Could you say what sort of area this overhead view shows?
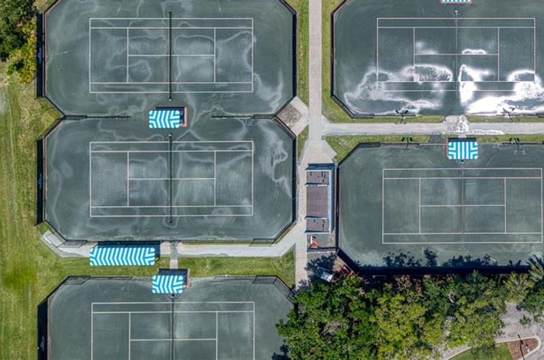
sports ground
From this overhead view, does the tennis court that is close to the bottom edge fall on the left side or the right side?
left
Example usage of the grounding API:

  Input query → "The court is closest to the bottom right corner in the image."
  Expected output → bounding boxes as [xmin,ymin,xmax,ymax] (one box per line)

[338,143,544,271]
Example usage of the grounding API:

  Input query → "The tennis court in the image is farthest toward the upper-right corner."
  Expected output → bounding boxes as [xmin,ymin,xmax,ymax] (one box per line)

[332,0,544,116]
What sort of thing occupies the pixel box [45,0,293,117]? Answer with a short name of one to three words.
tennis court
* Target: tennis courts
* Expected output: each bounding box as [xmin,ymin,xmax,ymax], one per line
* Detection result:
[338,143,544,271]
[46,277,294,360]
[332,0,544,116]
[45,0,293,117]
[45,117,293,242]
